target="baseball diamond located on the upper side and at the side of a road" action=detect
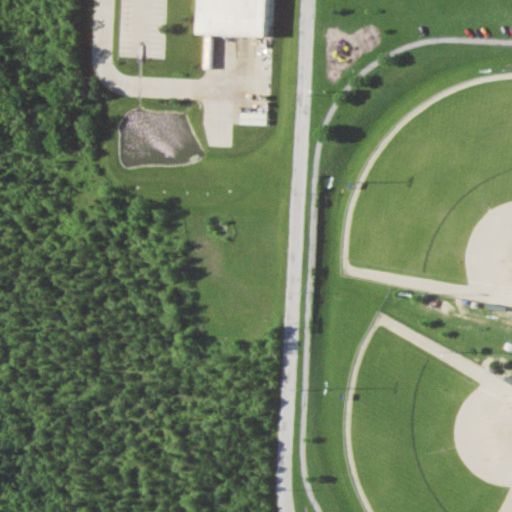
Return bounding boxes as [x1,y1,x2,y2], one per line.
[343,73,512,308]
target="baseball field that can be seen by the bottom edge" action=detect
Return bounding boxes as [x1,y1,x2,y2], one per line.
[346,313,512,512]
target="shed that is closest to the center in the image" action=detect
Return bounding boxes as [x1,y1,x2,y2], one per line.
[240,112,269,126]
